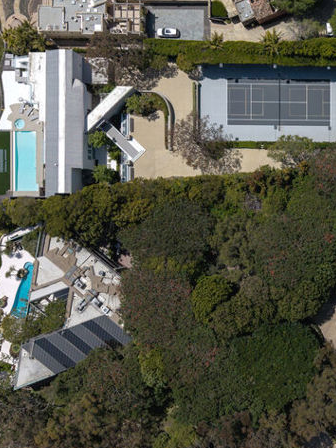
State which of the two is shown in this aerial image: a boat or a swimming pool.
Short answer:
swimming pool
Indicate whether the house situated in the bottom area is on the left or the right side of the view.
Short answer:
left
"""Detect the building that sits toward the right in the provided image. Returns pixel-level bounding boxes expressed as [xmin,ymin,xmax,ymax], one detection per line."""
[235,0,274,26]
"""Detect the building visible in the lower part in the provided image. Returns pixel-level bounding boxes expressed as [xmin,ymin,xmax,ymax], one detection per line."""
[16,234,132,389]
